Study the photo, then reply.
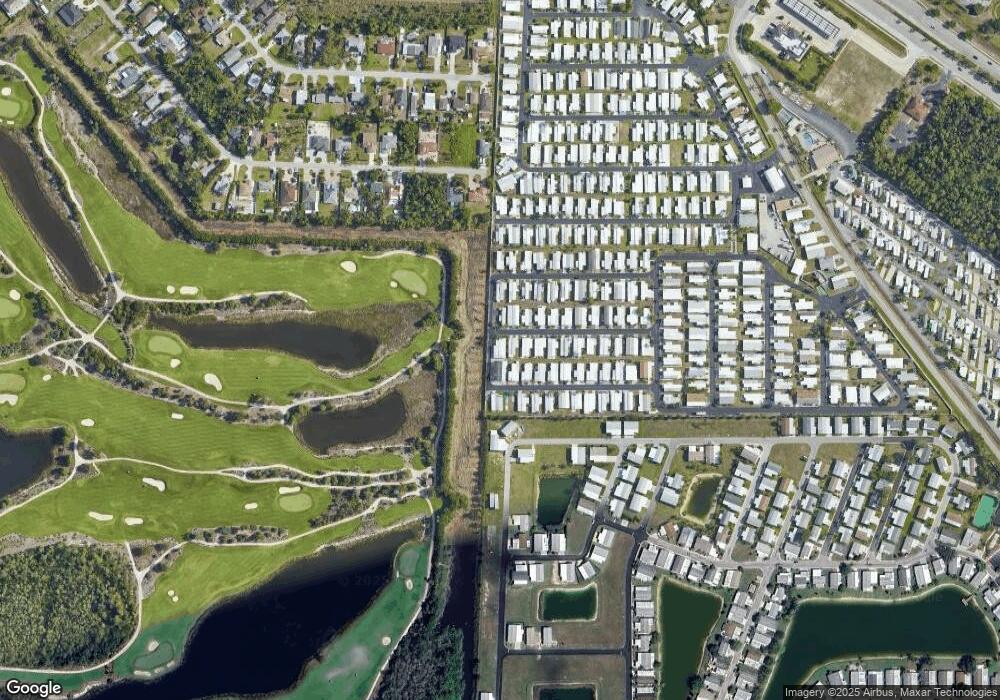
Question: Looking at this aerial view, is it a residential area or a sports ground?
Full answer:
What you see here is a residential area.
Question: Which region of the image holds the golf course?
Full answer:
The golf course sits in the left section of the image.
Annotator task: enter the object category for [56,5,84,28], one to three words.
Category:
house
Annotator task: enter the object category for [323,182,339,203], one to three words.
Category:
house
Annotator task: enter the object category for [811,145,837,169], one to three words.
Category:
building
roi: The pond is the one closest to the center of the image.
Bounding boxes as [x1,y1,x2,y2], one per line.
[537,476,577,525]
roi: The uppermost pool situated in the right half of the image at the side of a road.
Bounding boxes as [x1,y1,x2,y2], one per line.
[788,117,834,152]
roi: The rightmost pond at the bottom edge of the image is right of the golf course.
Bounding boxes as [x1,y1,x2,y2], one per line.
[658,579,723,700]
